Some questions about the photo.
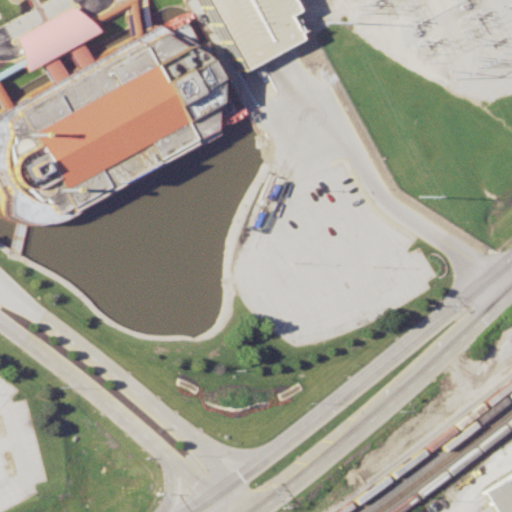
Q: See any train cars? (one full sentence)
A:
Yes, a train car can be made out from above.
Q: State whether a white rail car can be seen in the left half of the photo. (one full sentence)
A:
No, the scene shows no white rail car in the left half of the photo.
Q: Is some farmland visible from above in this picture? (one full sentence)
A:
No, there's no farmland in this view.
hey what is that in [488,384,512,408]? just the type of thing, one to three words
rail car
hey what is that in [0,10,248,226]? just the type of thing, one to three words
building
